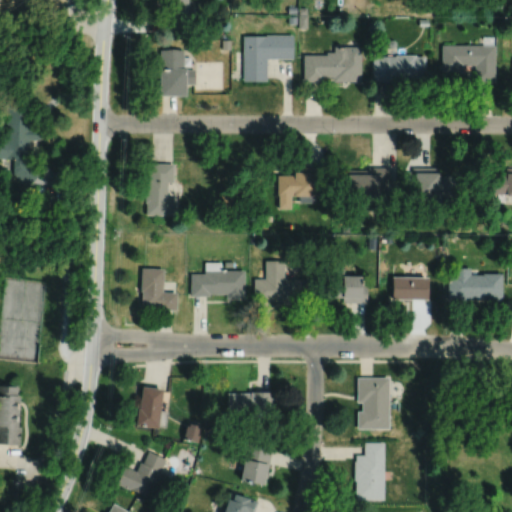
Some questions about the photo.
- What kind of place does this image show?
residential area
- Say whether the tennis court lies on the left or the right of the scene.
left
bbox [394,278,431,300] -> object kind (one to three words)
house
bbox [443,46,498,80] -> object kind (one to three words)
house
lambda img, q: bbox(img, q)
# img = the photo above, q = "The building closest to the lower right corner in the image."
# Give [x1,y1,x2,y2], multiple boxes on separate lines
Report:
[356,444,386,501]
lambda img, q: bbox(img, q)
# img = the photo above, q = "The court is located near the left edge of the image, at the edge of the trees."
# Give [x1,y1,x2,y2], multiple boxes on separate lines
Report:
[0,278,44,364]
